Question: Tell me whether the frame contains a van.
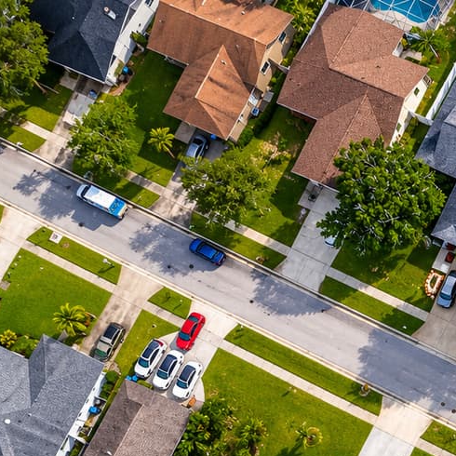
Yes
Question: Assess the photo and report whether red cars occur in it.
Yes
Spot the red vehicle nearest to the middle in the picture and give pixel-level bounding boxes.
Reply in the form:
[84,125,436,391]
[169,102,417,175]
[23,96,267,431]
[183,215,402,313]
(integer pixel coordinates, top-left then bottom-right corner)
[178,311,208,351]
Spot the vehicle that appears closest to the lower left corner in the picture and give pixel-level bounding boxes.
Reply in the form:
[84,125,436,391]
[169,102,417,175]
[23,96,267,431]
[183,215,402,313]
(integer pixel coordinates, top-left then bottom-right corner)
[96,321,128,362]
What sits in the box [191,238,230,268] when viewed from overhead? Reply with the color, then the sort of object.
blue car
